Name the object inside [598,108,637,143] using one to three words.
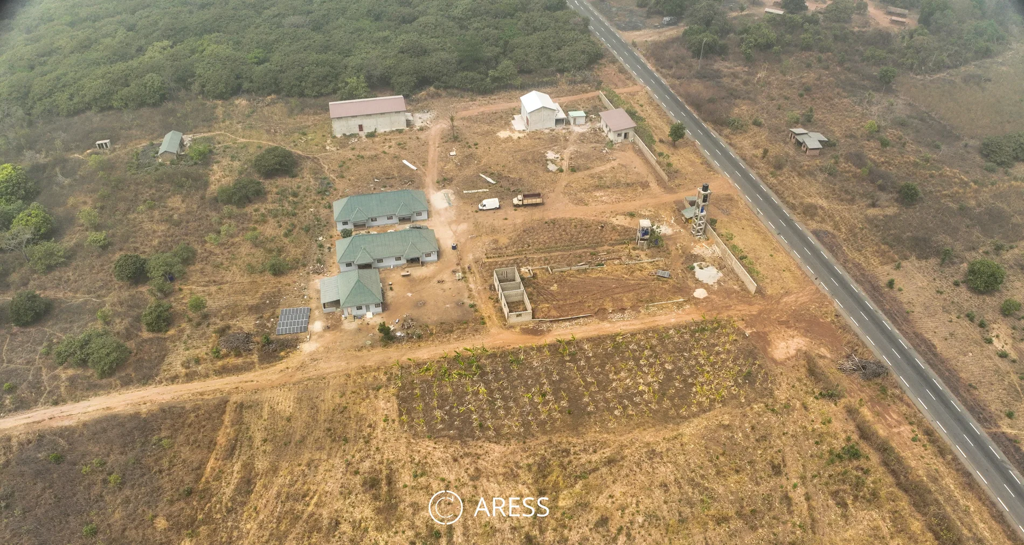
building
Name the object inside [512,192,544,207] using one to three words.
vehicle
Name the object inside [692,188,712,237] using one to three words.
water tower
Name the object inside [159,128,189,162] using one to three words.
barn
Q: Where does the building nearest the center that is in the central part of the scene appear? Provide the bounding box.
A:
[495,265,531,323]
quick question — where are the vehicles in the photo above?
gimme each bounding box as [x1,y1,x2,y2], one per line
[479,197,499,210]
[512,192,544,207]
[409,221,426,230]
